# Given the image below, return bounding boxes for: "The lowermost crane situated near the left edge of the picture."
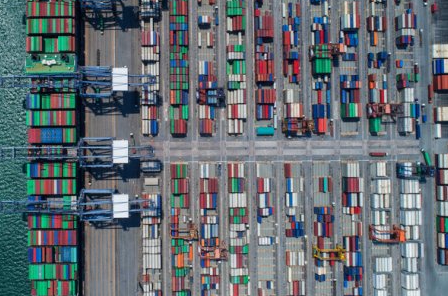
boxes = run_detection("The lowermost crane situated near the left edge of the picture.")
[0,183,154,223]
